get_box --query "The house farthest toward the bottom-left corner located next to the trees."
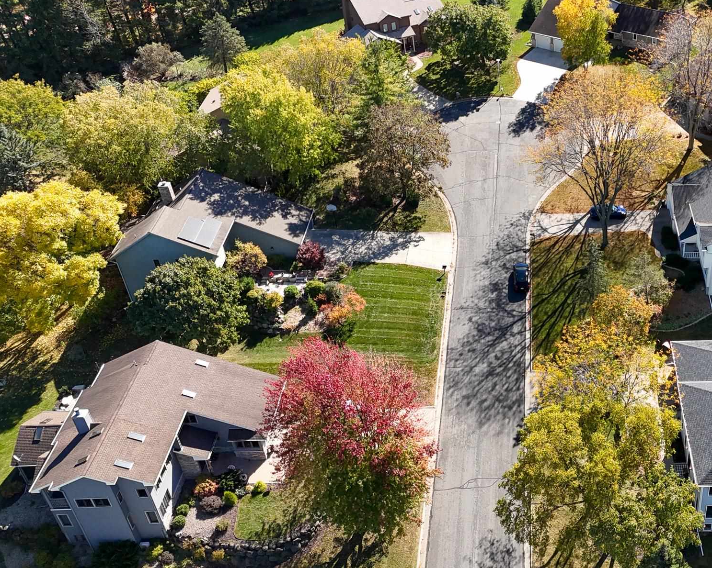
[4,337,289,536]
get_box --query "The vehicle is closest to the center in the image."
[513,261,531,286]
